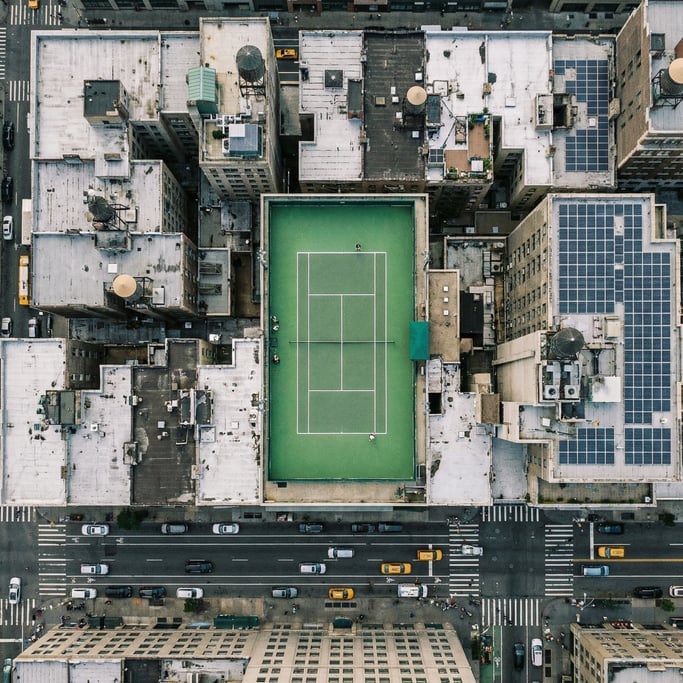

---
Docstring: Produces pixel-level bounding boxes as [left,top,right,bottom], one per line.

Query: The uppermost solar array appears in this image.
[555,61,608,171]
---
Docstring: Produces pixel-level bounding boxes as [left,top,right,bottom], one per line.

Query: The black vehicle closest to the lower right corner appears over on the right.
[633,586,662,599]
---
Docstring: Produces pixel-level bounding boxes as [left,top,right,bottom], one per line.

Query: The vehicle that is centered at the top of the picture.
[275,47,299,61]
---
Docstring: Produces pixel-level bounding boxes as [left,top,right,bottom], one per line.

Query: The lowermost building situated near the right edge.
[572,625,683,683]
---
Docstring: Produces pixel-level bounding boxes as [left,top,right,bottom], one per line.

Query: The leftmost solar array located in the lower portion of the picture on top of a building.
[558,428,614,465]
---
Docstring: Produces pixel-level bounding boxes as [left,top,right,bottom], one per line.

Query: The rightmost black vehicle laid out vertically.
[513,642,526,670]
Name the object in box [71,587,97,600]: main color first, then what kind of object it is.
white vehicle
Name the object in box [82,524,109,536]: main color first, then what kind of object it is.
white vehicle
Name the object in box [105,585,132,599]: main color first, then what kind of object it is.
black vehicle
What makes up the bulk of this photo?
buildings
